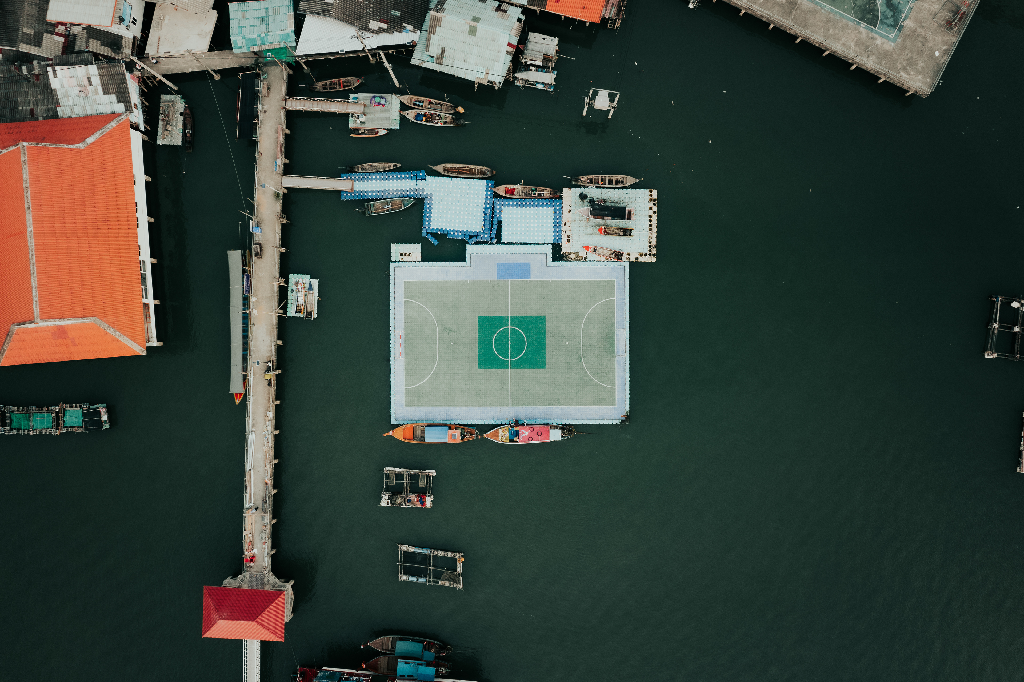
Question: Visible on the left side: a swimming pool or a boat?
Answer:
boat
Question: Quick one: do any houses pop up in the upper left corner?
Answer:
Yes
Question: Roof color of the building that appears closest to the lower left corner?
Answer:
red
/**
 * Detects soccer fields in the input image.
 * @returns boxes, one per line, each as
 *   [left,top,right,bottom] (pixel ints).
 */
[390,244,630,425]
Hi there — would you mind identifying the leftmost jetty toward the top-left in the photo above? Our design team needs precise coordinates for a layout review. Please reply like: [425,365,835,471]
[155,94,184,146]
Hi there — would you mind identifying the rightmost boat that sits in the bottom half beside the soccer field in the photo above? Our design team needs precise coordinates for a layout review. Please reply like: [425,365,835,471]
[478,422,593,443]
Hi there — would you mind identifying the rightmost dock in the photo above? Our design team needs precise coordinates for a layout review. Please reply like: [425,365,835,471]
[562,187,658,262]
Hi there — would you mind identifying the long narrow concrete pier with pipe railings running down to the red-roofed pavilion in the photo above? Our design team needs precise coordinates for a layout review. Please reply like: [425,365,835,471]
[243,61,295,573]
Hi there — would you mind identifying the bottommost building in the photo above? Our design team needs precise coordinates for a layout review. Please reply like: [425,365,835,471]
[201,571,295,643]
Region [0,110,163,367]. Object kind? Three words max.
building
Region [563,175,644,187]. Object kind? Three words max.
boat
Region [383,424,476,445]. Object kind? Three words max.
boat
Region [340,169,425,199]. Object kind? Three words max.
pier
